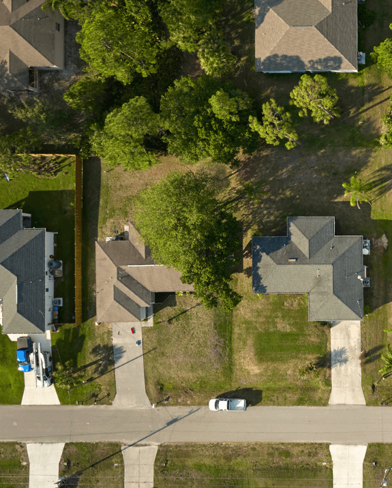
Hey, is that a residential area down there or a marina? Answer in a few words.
residential area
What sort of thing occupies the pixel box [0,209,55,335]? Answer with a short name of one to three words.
house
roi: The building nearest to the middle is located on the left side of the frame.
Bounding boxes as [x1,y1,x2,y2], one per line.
[94,219,192,323]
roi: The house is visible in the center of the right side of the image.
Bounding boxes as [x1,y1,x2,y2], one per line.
[252,216,364,320]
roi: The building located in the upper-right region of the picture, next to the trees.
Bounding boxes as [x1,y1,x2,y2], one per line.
[254,0,359,75]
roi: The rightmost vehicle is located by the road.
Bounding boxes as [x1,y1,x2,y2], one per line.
[209,398,247,412]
